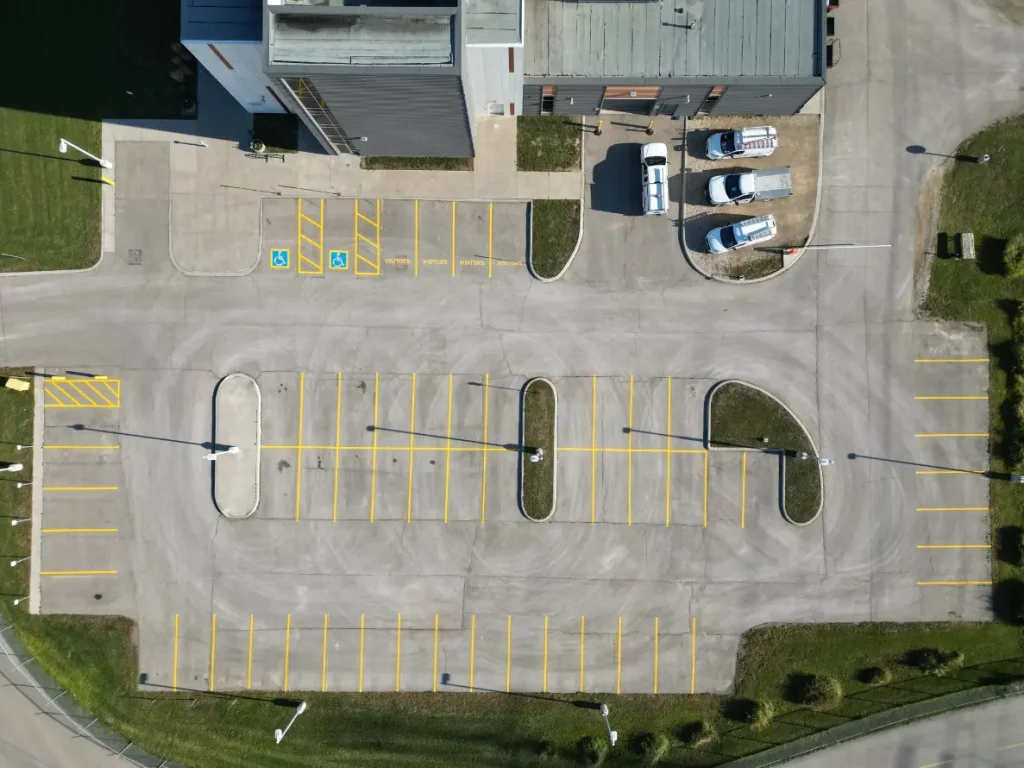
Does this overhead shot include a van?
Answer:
Yes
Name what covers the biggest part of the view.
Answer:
paved ground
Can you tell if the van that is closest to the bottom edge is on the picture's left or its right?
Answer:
right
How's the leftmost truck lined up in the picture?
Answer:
from top to bottom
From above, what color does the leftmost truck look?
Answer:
white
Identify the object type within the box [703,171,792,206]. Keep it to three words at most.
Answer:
truck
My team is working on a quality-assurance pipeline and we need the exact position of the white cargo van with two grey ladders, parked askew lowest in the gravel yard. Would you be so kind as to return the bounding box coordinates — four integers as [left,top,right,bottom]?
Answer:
[704,213,776,255]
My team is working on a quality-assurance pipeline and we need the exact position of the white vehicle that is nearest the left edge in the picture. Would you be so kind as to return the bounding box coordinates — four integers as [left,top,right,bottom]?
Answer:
[640,141,672,216]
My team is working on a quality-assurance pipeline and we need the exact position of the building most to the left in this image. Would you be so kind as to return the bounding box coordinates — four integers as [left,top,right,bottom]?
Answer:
[179,0,525,156]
